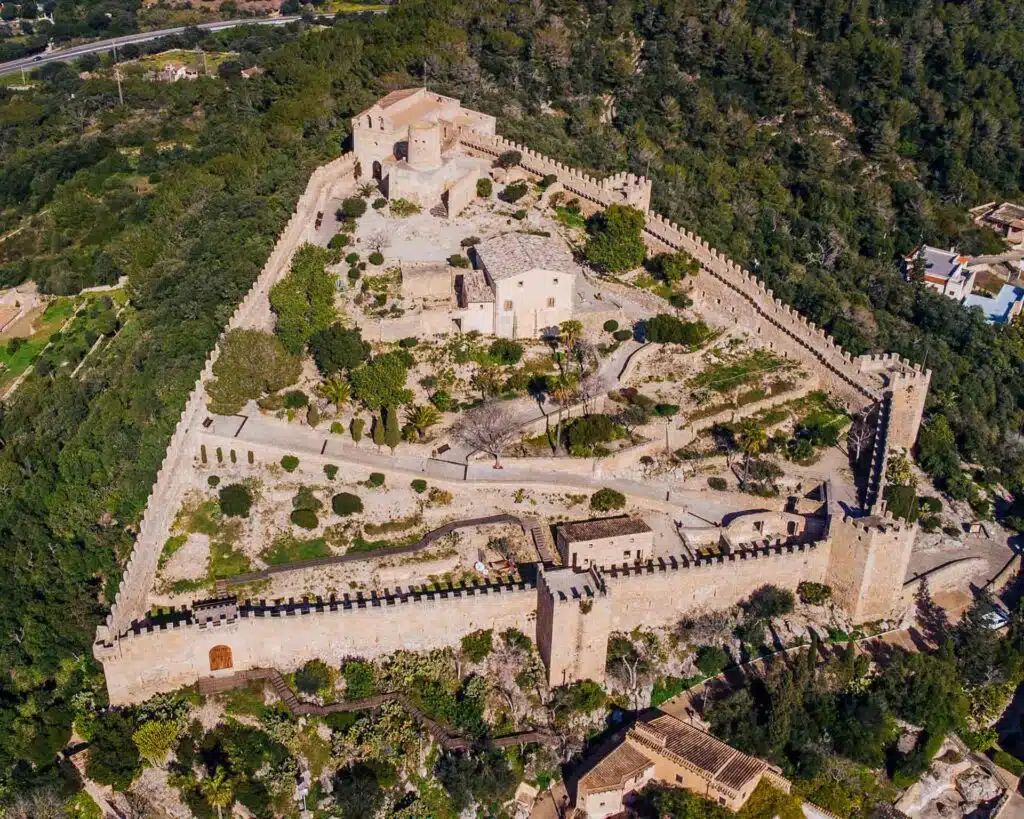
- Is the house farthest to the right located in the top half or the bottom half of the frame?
top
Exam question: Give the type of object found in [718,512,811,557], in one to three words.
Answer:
building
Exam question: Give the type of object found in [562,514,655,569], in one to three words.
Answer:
house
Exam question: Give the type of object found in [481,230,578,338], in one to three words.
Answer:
house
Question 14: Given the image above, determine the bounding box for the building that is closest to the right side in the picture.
[981,201,1024,272]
